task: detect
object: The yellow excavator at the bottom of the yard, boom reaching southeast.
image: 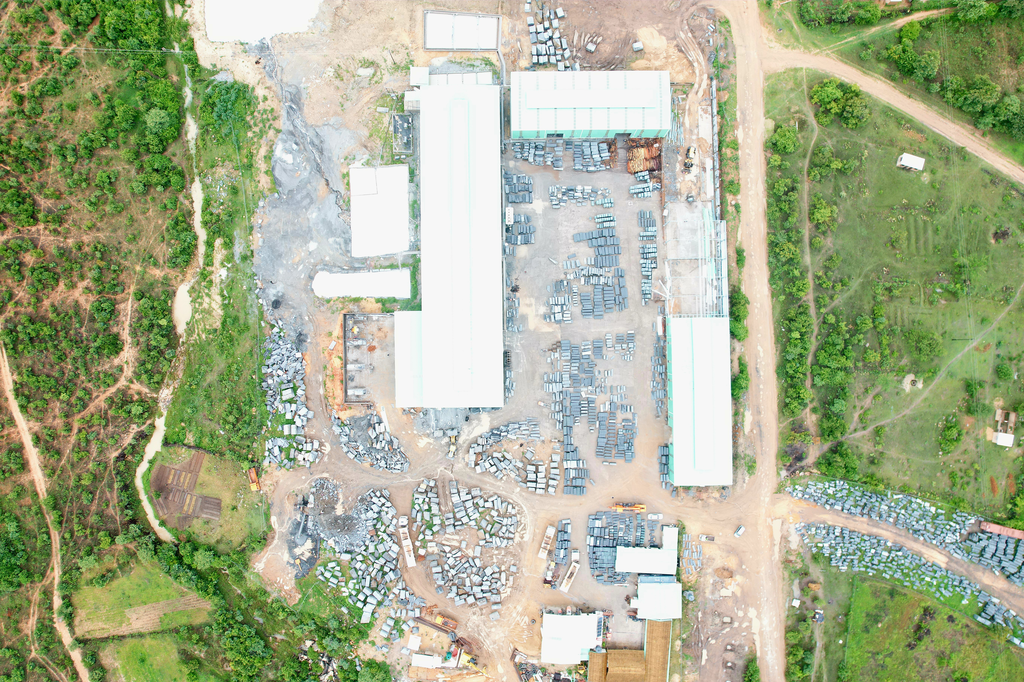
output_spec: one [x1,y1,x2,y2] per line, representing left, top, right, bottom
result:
[458,648,491,675]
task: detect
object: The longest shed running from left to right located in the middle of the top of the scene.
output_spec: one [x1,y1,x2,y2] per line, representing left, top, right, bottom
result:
[511,71,671,138]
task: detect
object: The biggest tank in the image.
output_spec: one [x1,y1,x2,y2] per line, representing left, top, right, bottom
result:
[424,11,500,51]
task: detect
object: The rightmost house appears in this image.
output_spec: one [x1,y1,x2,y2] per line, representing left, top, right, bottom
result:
[986,409,1017,447]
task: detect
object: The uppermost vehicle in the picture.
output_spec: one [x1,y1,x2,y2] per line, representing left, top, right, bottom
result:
[683,145,695,172]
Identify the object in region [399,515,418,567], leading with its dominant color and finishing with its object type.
white vehicle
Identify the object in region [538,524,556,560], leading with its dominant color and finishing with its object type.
white vehicle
